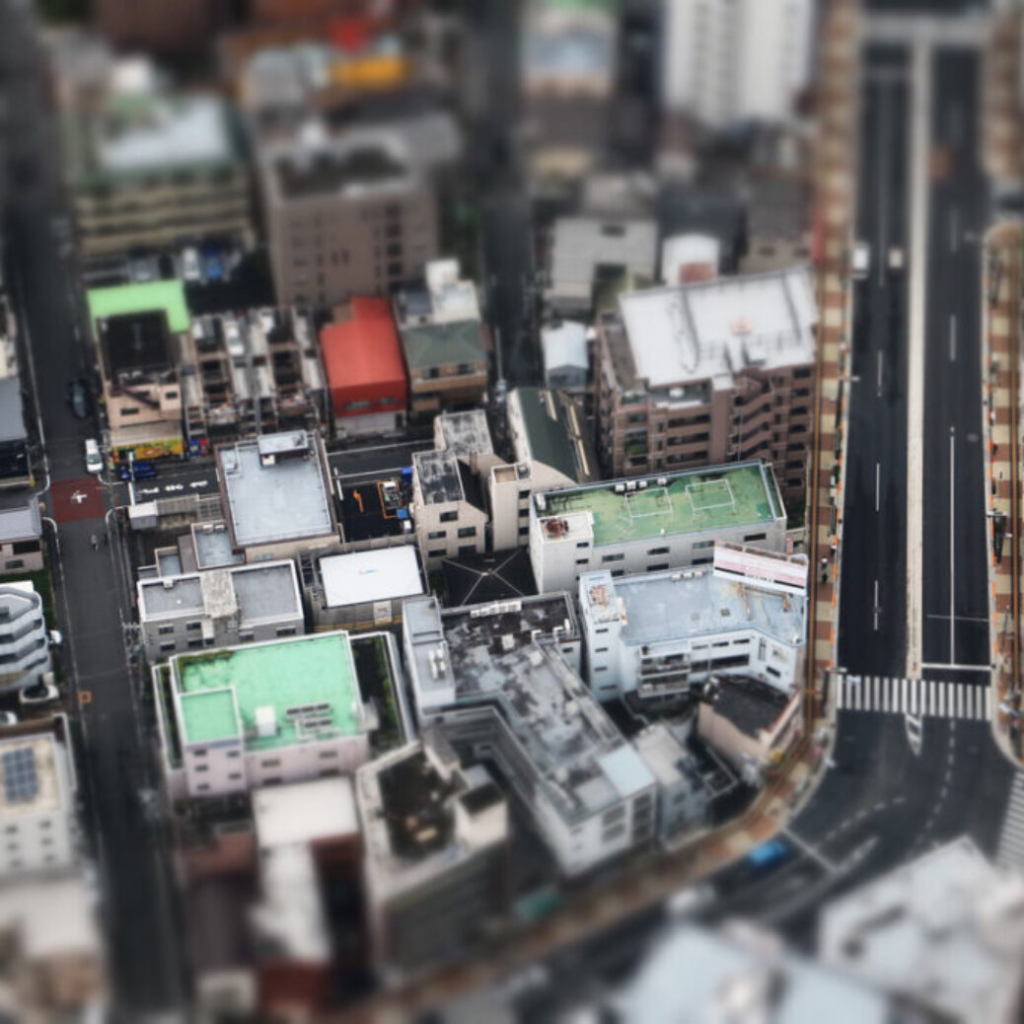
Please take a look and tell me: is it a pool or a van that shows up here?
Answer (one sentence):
I can see a van in this picture.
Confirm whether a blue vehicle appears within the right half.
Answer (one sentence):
Yes, looking within the right half, one can make out a blue vehicle.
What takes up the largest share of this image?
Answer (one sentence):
The scene is dominated by buildings.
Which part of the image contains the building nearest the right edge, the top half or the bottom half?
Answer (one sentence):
It is in the bottom half that the building nearest the right edge appears.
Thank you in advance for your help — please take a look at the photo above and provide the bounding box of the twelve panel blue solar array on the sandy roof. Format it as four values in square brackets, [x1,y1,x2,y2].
[2,749,38,804]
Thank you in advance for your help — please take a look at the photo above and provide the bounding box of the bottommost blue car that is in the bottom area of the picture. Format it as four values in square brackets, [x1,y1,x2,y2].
[743,840,787,872]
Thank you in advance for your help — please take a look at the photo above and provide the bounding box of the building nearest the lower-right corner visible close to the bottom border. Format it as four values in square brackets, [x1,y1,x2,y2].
[816,836,1024,1024]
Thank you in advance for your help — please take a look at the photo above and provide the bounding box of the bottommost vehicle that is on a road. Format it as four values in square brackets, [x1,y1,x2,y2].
[664,884,716,921]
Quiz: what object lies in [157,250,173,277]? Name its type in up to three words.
car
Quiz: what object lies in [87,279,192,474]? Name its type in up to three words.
building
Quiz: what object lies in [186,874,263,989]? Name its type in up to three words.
house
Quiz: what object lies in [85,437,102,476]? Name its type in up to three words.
vehicle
